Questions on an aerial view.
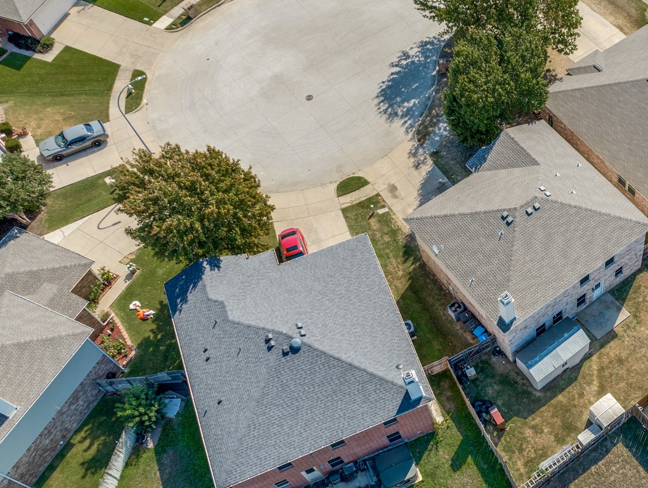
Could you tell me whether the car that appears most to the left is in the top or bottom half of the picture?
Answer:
top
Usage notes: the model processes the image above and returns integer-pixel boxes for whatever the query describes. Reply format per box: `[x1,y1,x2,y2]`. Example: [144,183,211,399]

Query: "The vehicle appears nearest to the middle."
[275,221,310,261]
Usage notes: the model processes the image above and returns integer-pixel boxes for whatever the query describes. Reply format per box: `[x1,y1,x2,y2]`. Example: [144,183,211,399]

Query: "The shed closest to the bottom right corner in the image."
[589,394,624,432]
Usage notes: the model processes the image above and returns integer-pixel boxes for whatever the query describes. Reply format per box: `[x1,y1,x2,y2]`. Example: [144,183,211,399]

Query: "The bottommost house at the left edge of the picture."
[0,288,125,488]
